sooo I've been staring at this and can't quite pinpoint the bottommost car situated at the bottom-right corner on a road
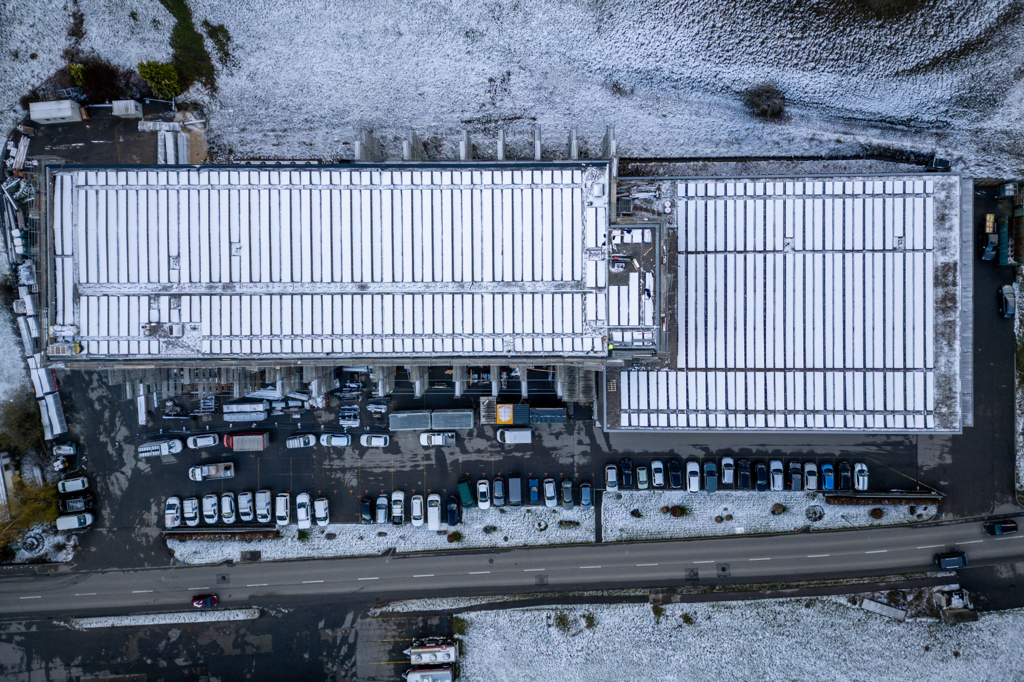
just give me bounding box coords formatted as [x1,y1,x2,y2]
[934,551,966,568]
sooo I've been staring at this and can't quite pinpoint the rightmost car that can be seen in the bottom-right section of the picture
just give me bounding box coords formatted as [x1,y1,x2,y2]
[983,520,1017,536]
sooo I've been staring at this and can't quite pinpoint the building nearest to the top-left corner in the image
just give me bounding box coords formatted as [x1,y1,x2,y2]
[29,99,84,125]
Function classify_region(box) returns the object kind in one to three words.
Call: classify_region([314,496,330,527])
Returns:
vehicle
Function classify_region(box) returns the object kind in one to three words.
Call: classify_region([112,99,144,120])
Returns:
building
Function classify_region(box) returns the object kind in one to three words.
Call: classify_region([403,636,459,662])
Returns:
trailer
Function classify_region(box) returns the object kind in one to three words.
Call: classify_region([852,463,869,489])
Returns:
car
